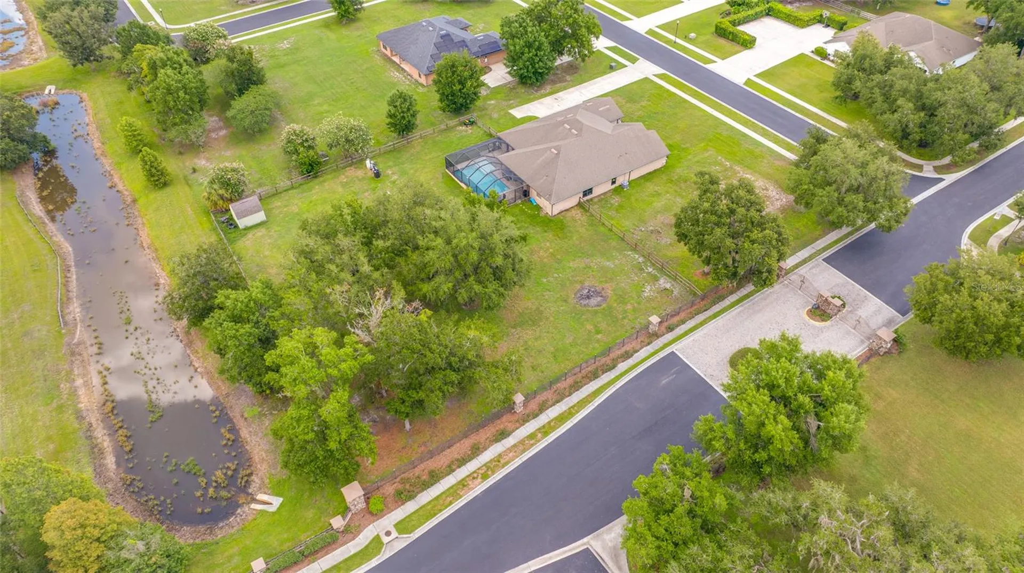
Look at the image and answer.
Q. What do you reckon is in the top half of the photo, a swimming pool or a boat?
swimming pool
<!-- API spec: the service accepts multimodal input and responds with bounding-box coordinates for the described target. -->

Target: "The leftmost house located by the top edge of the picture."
[375,14,506,85]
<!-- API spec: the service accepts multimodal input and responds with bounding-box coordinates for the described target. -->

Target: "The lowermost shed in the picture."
[230,196,266,229]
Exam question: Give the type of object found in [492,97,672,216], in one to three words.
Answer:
house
